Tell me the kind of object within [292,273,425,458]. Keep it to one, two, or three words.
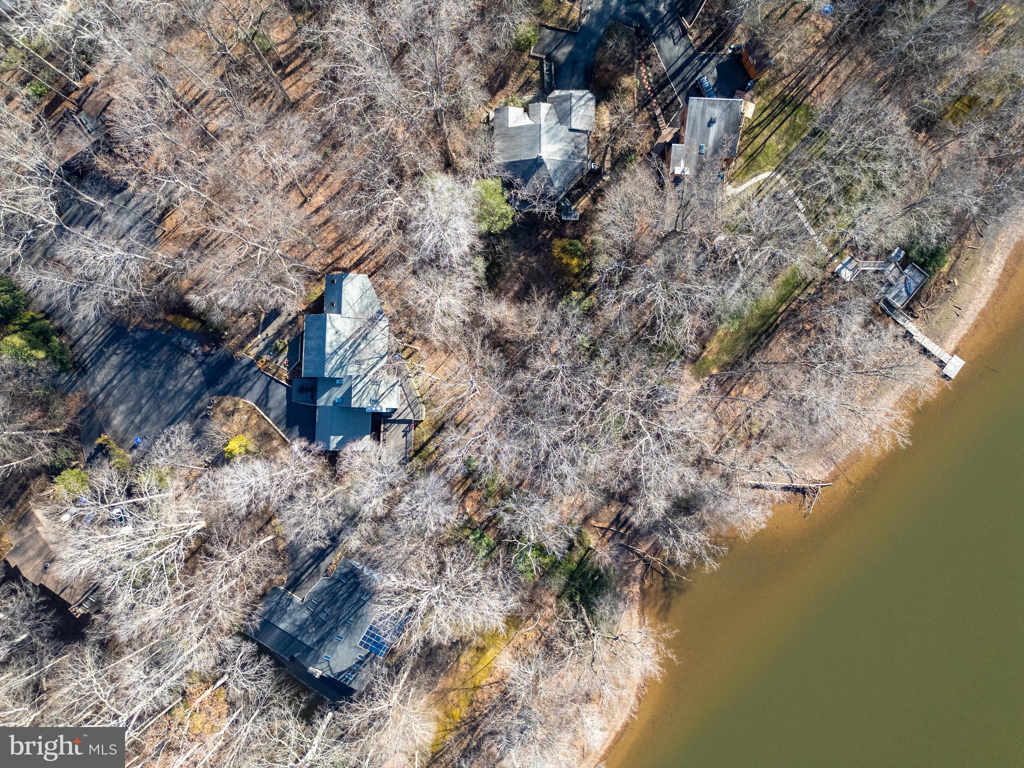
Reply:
house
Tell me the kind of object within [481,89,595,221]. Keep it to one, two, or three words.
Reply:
house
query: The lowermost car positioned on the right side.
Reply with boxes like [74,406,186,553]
[695,70,720,97]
